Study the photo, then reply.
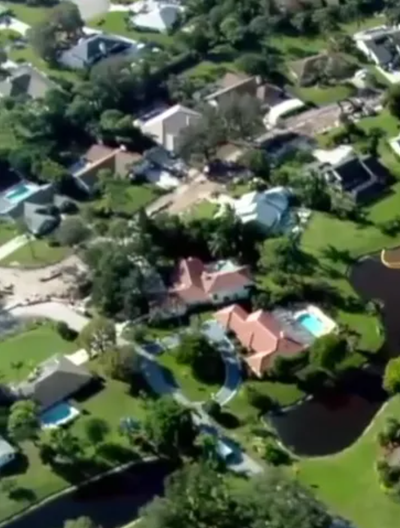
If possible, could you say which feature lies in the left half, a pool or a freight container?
pool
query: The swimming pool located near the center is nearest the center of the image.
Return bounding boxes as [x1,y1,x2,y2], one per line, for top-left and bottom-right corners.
[207,259,238,276]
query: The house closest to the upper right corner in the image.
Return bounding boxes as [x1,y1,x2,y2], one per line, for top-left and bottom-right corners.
[353,23,400,75]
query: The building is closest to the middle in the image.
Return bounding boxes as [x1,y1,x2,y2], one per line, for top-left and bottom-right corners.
[165,258,259,314]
